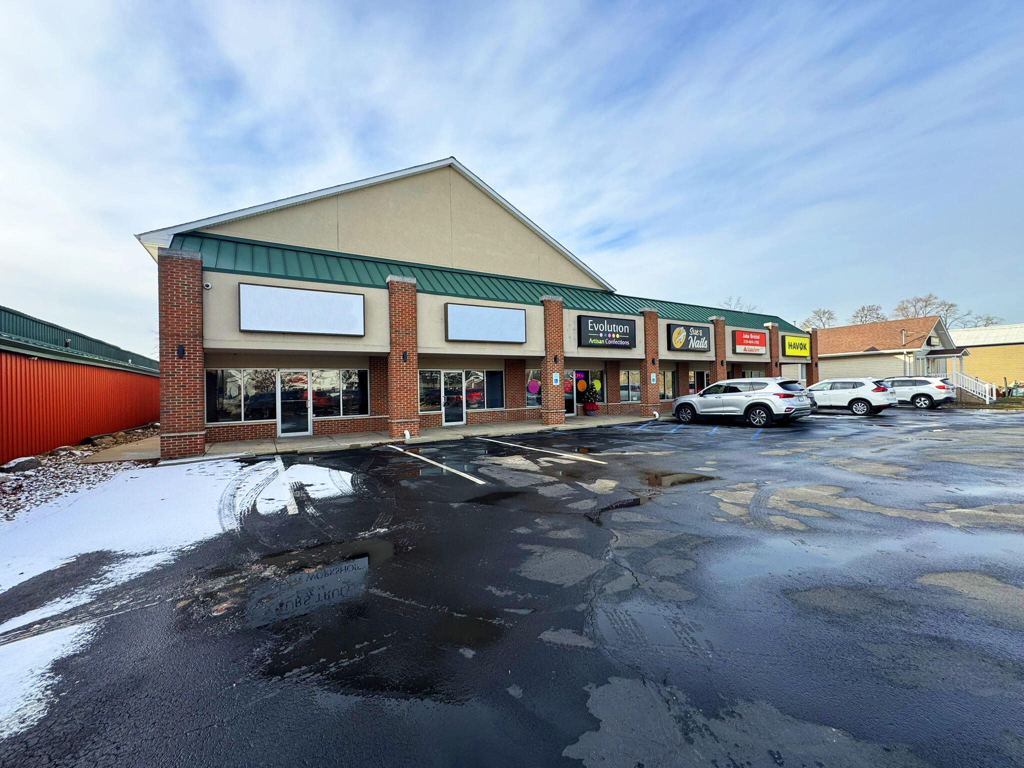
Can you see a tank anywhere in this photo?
No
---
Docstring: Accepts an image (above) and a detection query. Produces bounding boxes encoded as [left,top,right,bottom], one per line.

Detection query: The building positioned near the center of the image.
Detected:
[131,154,819,457]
